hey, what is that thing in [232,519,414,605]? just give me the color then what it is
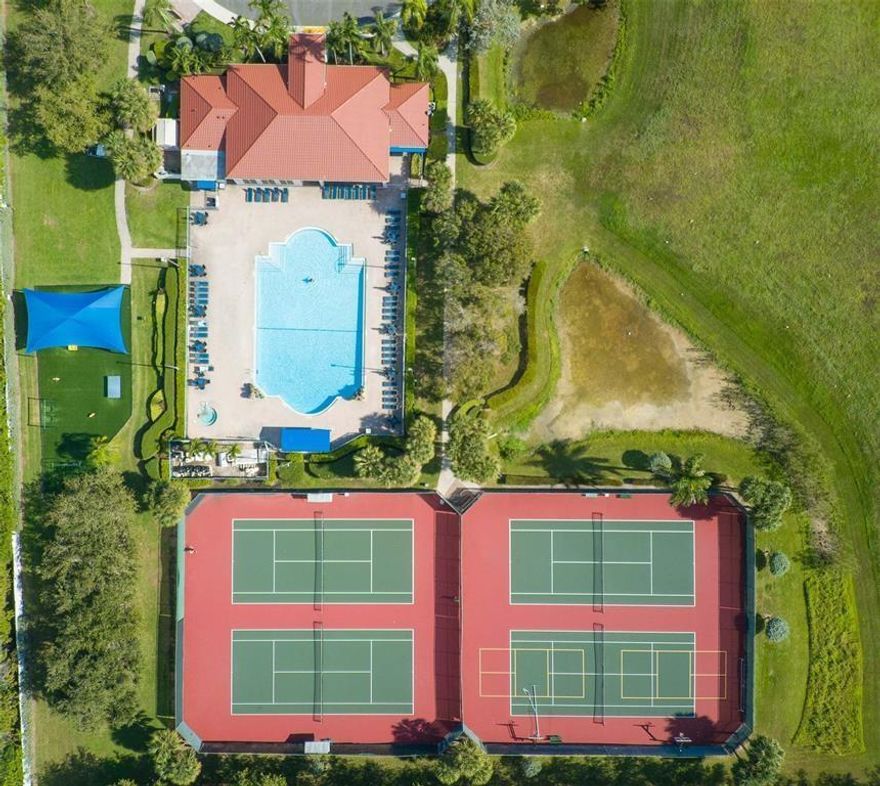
green tennis court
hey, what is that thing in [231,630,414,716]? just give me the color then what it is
green tennis court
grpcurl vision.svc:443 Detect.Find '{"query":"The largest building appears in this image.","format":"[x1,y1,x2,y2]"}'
[180,33,430,191]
